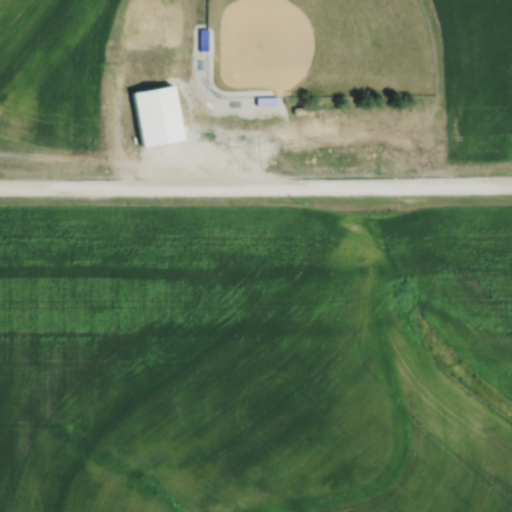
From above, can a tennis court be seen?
No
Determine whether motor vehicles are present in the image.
No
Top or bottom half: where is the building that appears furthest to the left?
top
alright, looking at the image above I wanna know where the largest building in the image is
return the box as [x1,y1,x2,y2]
[135,85,187,147]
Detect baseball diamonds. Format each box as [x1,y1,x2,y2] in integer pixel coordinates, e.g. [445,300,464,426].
[209,0,436,95]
